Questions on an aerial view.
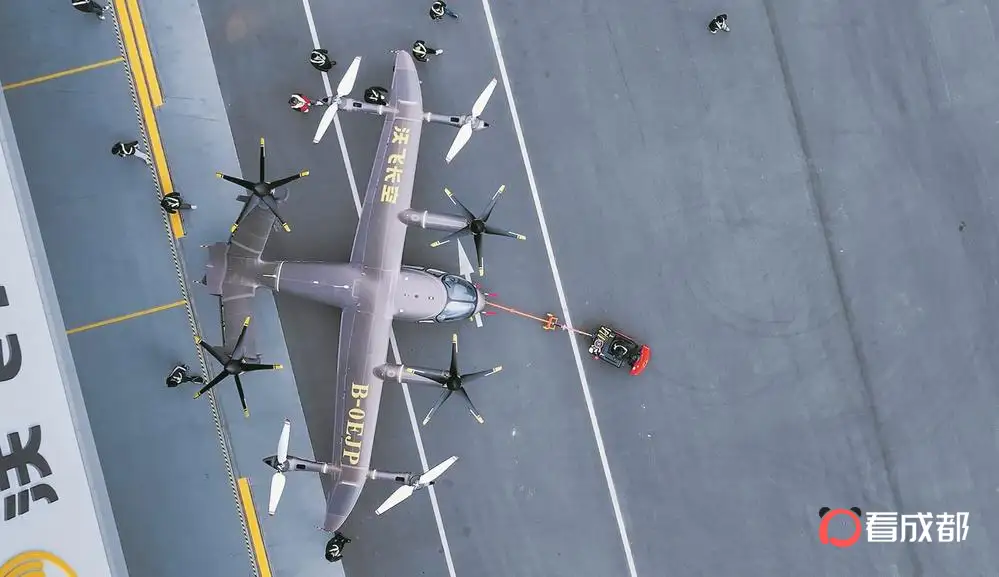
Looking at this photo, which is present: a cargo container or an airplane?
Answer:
airplane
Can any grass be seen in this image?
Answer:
No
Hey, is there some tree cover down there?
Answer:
No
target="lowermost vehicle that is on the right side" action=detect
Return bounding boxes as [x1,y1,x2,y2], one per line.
[589,325,644,374]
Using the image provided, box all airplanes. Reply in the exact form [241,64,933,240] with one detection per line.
[190,48,524,529]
